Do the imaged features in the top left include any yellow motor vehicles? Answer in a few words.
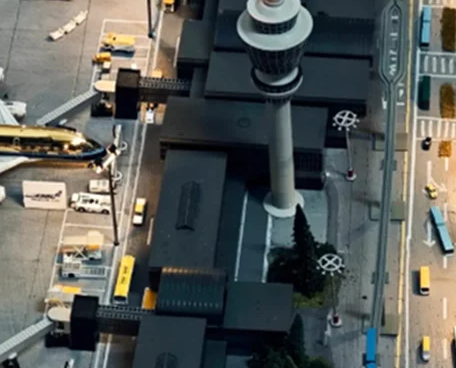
Yes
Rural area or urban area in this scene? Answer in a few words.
urban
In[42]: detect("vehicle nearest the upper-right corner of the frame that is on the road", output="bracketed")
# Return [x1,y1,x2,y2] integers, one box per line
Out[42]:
[418,7,432,51]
